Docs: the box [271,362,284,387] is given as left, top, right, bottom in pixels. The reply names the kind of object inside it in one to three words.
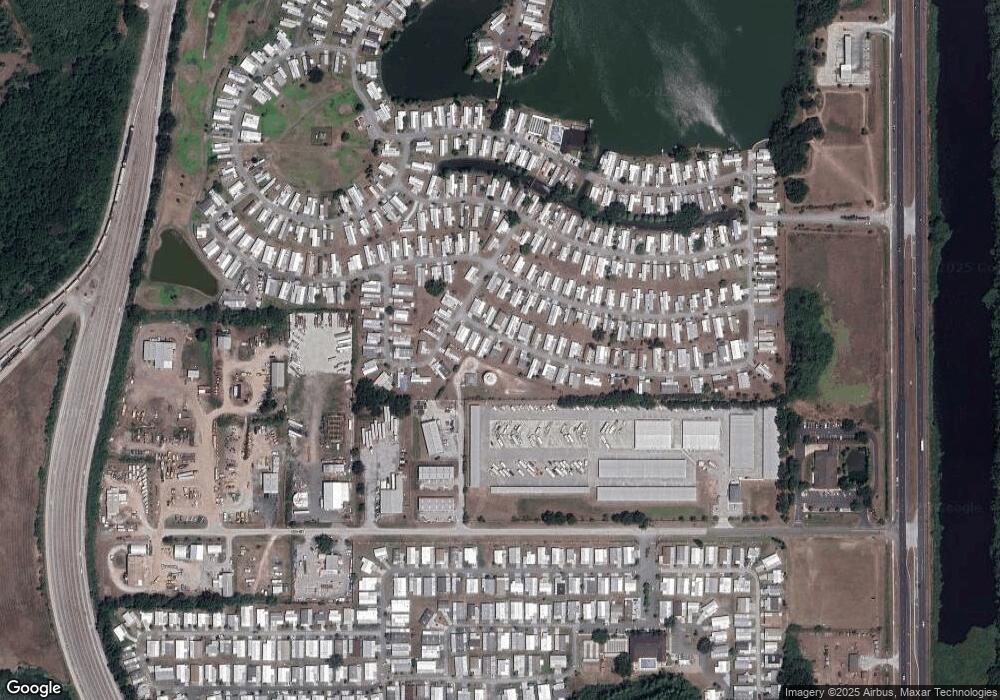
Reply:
barn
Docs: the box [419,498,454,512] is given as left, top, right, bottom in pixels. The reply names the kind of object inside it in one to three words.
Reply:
building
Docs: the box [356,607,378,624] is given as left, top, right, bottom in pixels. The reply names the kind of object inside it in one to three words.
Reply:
house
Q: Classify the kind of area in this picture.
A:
residential area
